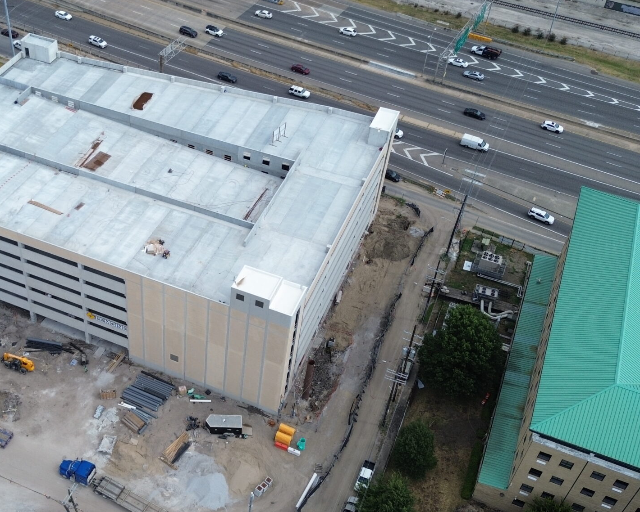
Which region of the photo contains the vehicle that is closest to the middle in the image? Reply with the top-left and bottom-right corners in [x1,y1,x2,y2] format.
[385,170,403,183]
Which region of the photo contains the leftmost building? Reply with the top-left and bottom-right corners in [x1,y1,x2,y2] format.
[0,33,400,416]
